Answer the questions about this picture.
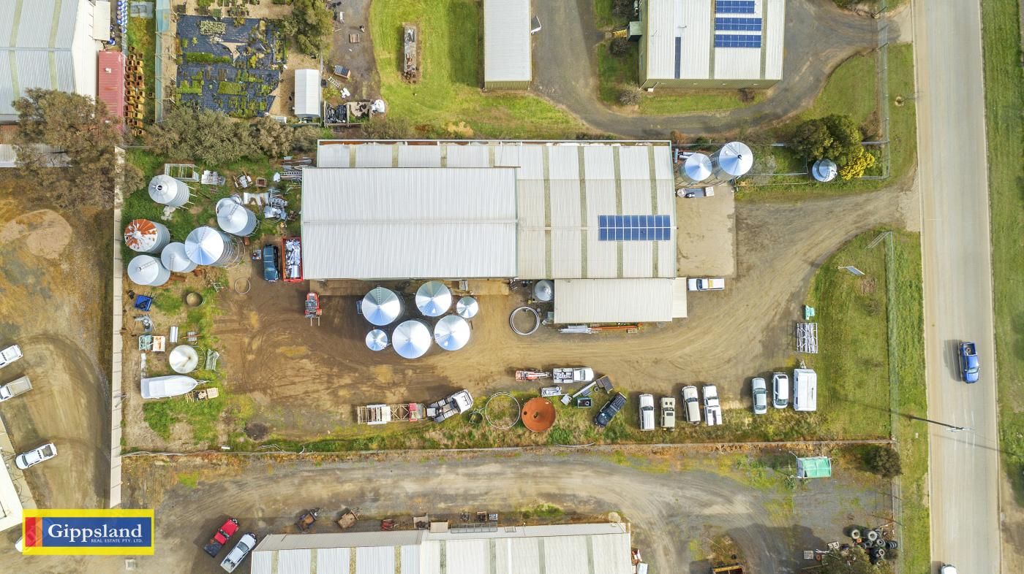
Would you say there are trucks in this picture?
Yes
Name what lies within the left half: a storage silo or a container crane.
storage silo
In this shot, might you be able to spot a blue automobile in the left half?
Yes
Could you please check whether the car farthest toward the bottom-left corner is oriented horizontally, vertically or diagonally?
diagonally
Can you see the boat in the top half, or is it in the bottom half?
bottom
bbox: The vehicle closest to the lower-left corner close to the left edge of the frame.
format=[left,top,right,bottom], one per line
[9,524,45,557]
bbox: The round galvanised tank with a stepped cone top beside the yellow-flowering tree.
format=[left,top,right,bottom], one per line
[805,159,835,185]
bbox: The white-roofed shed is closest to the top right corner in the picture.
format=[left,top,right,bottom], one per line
[641,0,785,89]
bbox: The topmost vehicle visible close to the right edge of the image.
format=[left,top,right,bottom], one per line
[957,342,979,384]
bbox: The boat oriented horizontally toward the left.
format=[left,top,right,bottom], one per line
[137,378,208,400]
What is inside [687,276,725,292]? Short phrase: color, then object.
white vehicle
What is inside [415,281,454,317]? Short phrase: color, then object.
white silo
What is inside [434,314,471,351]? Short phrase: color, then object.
white silo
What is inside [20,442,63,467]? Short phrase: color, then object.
white truck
